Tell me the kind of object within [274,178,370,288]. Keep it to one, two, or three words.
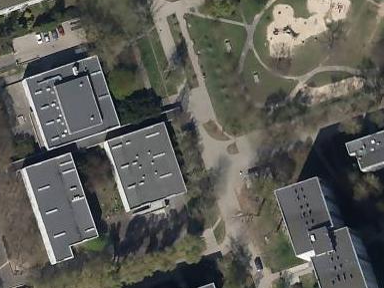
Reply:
building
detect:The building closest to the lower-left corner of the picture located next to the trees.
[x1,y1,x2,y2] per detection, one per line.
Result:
[21,153,98,266]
